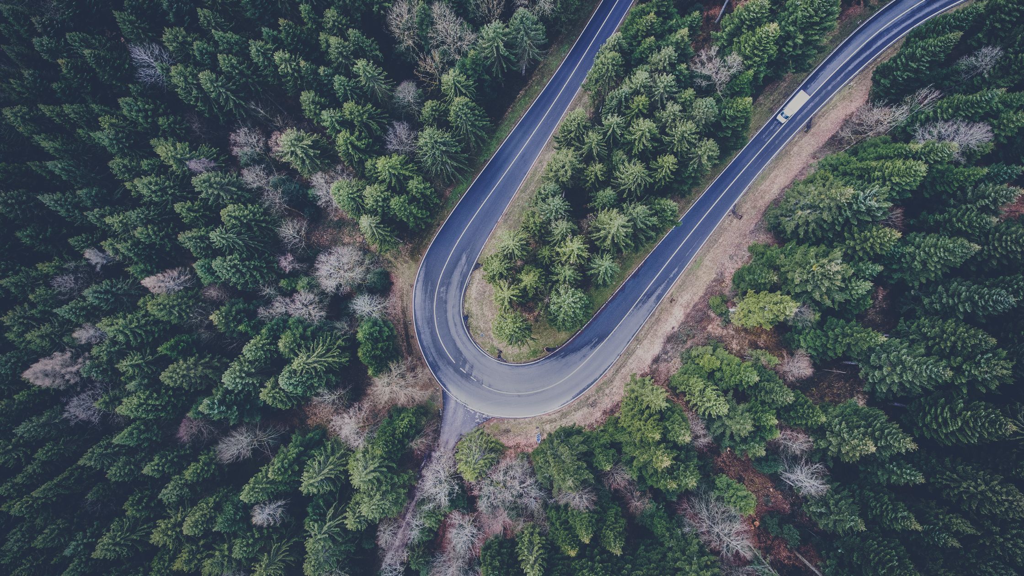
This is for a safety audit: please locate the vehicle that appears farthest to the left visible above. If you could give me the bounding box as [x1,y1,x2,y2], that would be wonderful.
[775,88,813,125]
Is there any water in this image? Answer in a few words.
No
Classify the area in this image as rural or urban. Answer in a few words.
rural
